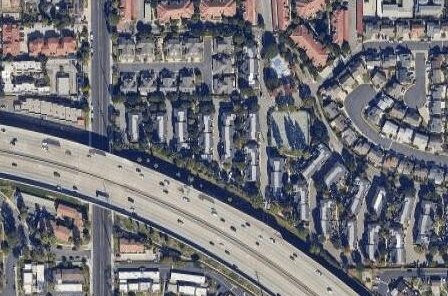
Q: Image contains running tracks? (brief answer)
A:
No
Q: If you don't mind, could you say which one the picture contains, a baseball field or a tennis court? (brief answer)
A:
tennis court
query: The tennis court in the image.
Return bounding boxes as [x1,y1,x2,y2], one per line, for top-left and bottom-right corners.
[271,109,309,146]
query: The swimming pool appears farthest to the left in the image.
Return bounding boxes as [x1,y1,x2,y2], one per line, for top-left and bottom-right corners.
[269,54,288,72]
